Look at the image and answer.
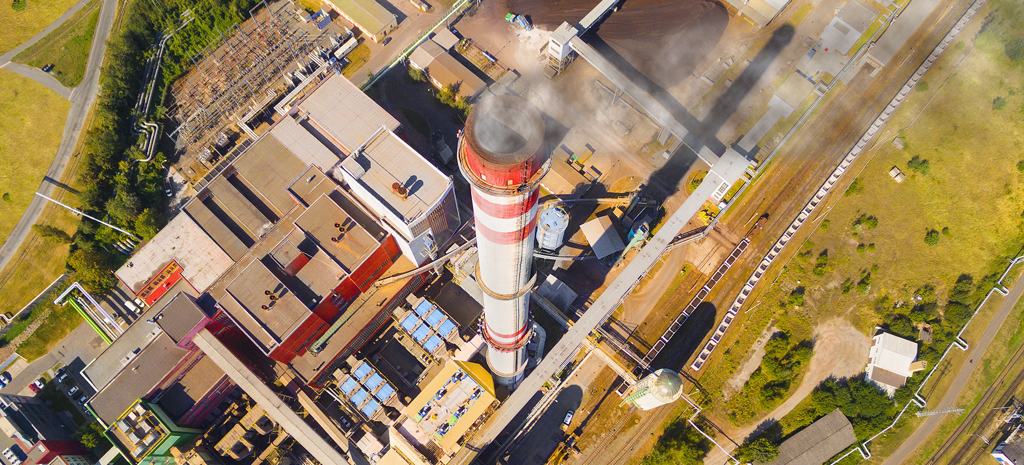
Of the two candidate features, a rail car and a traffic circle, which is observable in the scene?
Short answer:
rail car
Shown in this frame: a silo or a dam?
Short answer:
silo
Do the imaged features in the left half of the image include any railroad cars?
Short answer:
No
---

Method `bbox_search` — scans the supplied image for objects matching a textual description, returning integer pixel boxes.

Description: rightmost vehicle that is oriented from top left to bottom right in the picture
[697,208,715,225]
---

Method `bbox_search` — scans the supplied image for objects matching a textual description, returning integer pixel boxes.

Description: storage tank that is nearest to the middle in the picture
[538,212,568,254]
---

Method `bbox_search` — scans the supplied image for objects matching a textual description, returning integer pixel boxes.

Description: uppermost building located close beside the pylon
[865,325,929,394]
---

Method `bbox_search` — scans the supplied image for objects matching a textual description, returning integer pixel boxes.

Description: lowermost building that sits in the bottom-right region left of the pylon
[746,407,860,465]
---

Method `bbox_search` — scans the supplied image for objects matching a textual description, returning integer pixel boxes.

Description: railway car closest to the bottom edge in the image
[617,365,645,394]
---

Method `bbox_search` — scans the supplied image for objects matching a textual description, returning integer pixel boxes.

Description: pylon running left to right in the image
[916,402,967,420]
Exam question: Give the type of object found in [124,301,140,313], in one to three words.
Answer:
vehicle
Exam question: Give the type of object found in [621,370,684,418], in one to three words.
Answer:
silo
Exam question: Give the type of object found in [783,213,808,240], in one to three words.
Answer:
rail car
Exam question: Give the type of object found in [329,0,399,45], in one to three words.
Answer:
building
